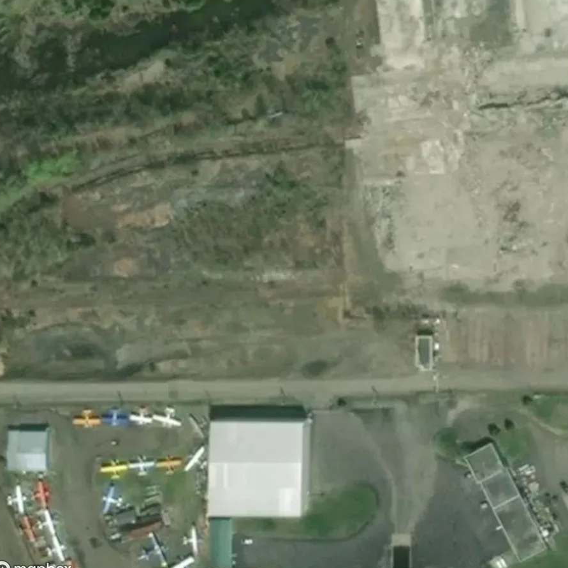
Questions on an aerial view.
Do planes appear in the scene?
Yes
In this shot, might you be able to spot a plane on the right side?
No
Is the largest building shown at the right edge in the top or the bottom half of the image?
bottom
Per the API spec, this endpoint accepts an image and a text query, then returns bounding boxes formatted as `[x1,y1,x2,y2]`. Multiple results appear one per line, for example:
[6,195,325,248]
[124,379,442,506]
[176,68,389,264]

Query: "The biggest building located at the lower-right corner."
[465,444,550,561]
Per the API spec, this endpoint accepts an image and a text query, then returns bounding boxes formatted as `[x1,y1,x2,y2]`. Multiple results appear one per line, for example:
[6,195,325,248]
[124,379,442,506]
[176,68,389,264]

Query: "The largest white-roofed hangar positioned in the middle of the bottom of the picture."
[208,421,309,517]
